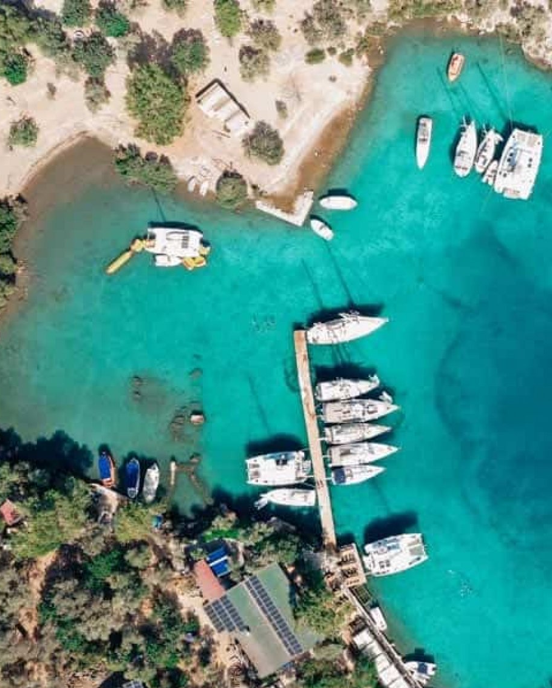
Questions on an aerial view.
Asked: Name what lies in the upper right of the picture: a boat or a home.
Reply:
boat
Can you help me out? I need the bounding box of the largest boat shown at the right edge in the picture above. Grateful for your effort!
[496,129,542,204]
